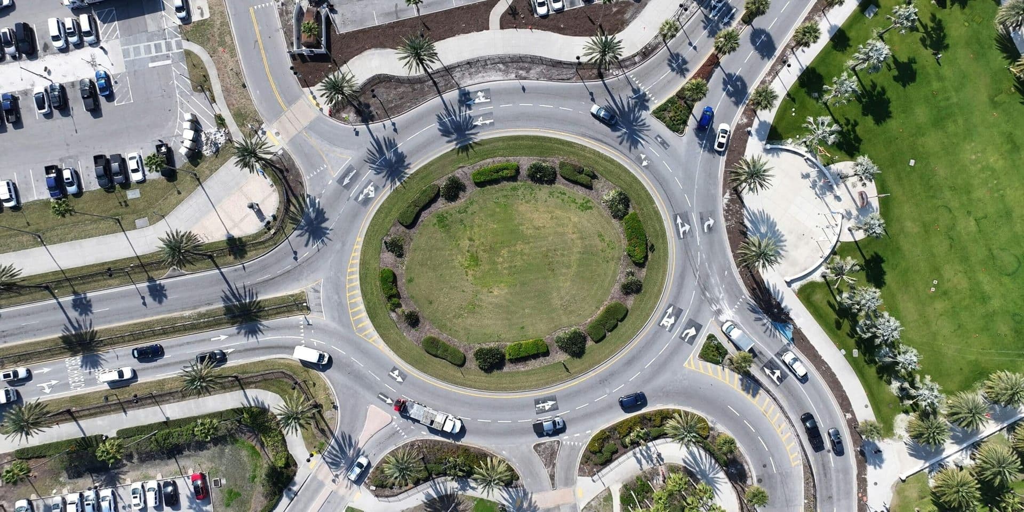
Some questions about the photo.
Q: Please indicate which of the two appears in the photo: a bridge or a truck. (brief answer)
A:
truck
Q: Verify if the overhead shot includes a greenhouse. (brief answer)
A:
No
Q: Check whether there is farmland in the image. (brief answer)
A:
No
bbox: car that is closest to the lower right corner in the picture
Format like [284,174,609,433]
[826,425,844,456]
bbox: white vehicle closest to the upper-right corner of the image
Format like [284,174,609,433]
[713,122,730,153]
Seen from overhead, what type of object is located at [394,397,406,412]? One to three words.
vehicle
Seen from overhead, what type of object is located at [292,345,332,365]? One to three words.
vehicle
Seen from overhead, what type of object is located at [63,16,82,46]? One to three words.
car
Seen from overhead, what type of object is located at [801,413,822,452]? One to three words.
truck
